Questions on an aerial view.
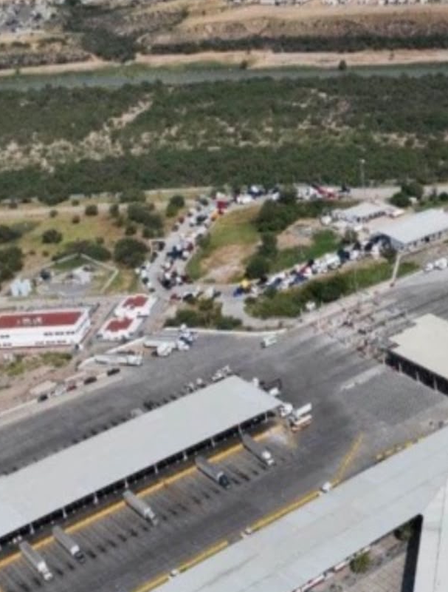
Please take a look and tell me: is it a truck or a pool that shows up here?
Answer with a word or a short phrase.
truck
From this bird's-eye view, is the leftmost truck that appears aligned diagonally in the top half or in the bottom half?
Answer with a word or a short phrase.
bottom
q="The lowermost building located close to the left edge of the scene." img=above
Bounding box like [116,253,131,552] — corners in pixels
[0,309,90,341]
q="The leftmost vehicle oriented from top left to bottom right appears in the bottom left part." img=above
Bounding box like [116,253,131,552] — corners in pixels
[18,542,52,580]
